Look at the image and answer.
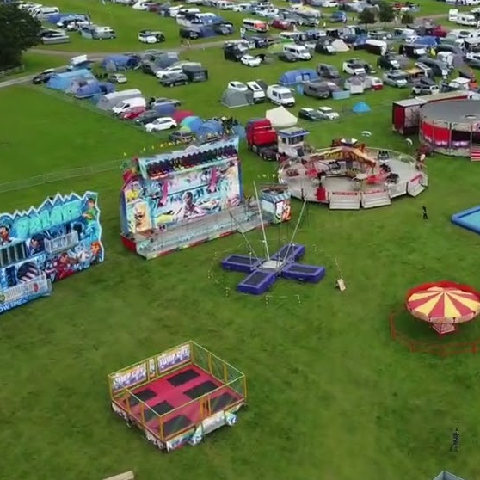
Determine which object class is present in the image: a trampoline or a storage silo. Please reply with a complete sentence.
I can see a trampoline in this picture.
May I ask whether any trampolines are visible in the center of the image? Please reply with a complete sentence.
Yes, there is a trampoline in the center of the image.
